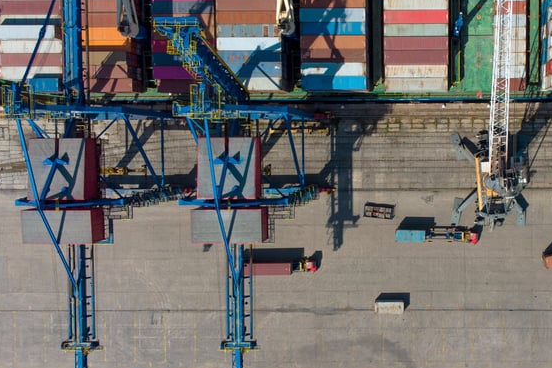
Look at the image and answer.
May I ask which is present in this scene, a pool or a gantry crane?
gantry crane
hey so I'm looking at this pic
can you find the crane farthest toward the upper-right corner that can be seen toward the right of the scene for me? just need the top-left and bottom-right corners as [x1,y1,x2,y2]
[450,0,532,226]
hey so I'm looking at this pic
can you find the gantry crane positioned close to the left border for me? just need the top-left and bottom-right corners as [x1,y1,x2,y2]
[2,0,197,368]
